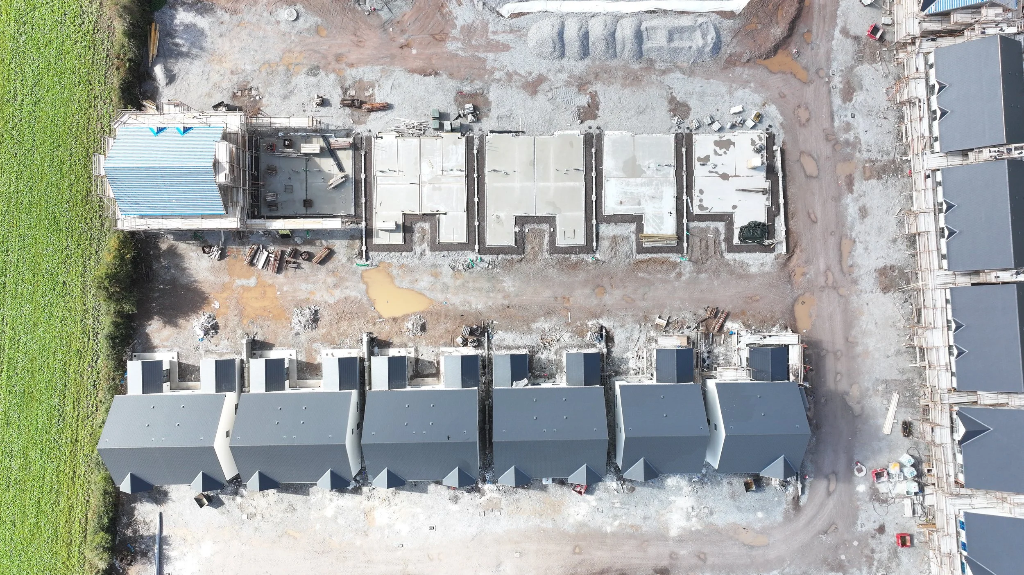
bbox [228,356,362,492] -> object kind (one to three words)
house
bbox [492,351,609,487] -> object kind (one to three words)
house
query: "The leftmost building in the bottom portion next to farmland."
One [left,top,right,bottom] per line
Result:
[95,358,241,494]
